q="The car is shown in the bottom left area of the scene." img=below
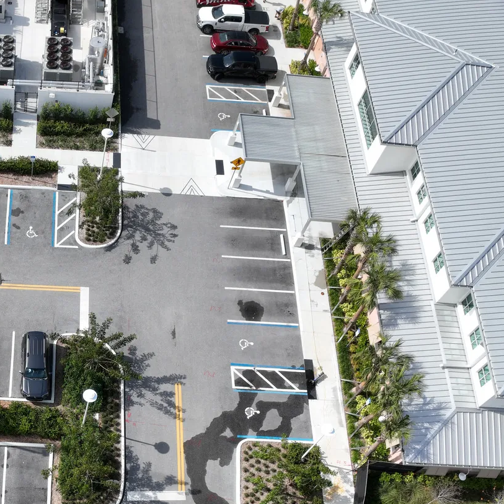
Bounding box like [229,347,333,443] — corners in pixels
[16,331,54,403]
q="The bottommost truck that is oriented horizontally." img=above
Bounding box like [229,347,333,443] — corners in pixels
[202,53,281,88]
